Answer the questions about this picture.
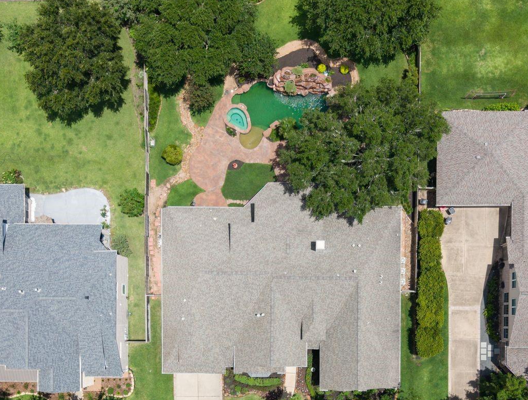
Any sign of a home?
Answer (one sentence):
Yes, looking at the shot, I can spot a home.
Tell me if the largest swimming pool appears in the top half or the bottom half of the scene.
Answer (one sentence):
You can find the largest swimming pool in the top half.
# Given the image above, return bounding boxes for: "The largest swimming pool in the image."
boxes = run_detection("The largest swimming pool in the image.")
[232,81,327,149]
